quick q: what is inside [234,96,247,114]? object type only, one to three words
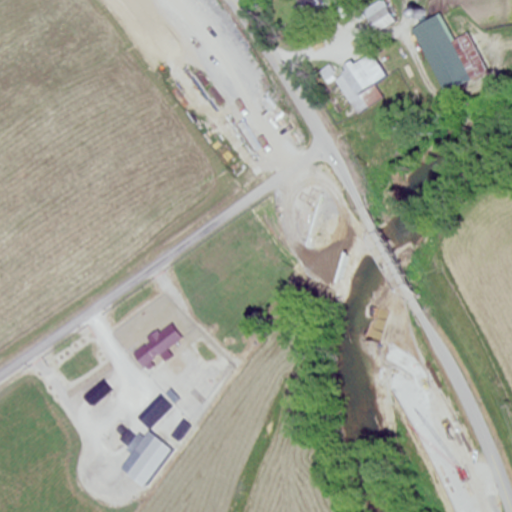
vehicle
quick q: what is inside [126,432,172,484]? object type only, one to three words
barn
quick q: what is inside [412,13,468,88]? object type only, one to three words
building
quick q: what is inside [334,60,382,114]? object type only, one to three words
house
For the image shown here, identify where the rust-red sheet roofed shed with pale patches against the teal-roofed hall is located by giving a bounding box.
[454,34,486,78]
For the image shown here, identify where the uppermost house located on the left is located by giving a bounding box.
[135,322,183,368]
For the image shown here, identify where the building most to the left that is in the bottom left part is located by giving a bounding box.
[84,379,112,406]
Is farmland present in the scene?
Yes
